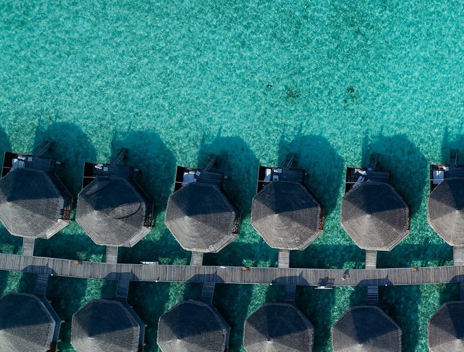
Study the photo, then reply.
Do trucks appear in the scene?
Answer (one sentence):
No, no truck can be seen from above.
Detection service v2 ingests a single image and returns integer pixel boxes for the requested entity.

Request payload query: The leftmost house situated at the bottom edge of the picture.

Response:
[0,289,72,352]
